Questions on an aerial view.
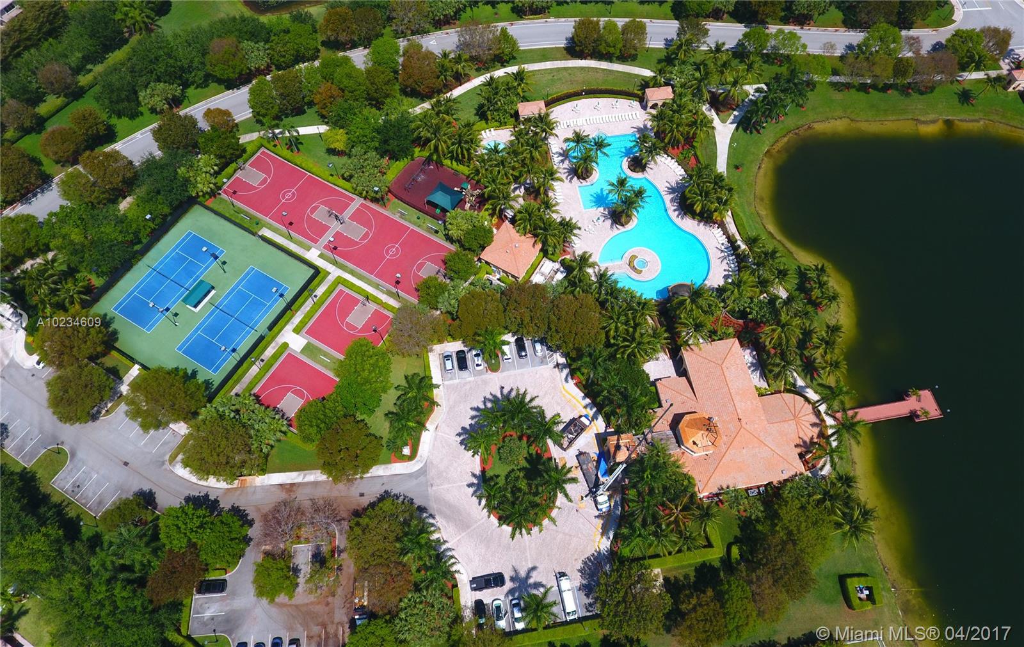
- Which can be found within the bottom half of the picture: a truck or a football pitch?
truck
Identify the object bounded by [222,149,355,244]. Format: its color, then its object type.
red basketball court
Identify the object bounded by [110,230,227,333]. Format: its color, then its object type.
blue tennis court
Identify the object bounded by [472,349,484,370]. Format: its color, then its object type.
white vehicle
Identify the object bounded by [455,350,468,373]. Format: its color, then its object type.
black vehicle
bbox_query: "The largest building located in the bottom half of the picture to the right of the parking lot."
[601,336,820,498]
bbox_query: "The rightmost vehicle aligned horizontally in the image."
[473,573,504,589]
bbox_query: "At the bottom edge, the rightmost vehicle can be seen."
[554,572,579,619]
